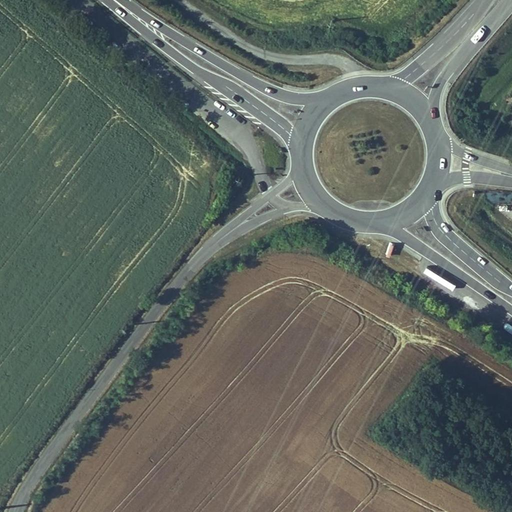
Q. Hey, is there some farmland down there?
Yes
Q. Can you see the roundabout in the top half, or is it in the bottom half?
top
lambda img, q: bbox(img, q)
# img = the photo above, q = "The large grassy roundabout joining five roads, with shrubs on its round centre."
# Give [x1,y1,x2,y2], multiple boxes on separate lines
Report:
[288,74,453,234]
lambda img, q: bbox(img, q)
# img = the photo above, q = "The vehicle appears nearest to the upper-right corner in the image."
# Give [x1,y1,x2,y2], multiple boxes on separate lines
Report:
[470,26,486,44]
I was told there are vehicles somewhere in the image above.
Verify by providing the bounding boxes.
[440,221,450,233]
[351,86,363,91]
[235,114,248,126]
[260,180,268,193]
[440,157,446,170]
[435,190,441,202]
[114,6,127,18]
[226,108,238,118]
[150,19,162,29]
[476,256,488,266]
[232,94,244,104]
[152,38,164,48]
[193,46,206,56]
[464,153,476,160]
[208,120,219,130]
[470,26,486,44]
[484,289,496,299]
[431,107,437,119]
[264,87,276,94]
[213,100,226,110]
